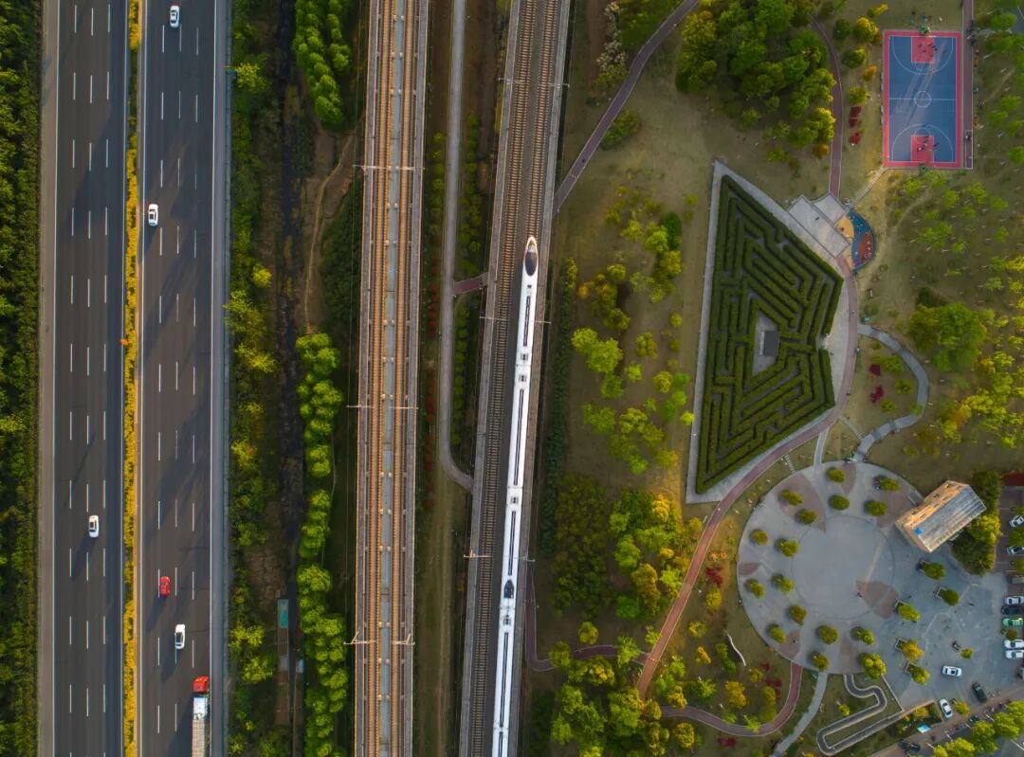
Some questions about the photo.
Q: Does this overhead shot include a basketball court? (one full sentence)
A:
Yes, the picture does show a basketball court.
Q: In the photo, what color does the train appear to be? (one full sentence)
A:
The train is white.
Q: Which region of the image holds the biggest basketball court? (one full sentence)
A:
The biggest basketball court is located in the top right region of the scene.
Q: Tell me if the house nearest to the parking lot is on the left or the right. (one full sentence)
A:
It is on the right.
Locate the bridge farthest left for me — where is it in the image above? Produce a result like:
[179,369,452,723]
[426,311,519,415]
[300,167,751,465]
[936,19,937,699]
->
[353,0,429,757]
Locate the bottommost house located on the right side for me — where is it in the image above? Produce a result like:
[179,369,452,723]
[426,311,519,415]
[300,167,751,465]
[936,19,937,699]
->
[896,481,990,555]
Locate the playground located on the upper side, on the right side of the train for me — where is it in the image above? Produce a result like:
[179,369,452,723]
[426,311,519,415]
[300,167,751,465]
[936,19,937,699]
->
[835,210,878,272]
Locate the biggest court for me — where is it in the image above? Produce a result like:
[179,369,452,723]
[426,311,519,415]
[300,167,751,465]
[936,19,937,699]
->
[883,29,962,169]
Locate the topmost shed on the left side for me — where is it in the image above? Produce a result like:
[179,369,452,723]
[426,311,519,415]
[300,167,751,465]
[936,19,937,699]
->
[278,597,290,628]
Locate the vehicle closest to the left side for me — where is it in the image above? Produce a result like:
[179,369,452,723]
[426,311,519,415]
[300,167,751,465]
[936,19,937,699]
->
[88,515,100,537]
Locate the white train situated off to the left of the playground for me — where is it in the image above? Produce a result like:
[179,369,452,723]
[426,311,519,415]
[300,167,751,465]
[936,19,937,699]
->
[492,236,537,757]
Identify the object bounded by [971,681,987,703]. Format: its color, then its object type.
black car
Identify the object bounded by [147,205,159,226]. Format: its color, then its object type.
white vehicle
